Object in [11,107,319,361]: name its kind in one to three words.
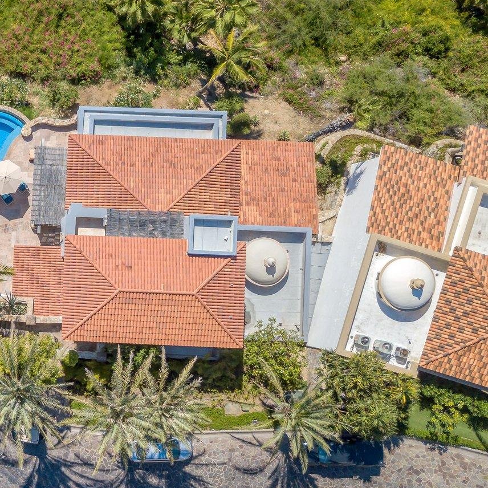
house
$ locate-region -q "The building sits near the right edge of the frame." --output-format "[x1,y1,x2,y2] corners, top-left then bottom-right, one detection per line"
[305,125,488,393]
